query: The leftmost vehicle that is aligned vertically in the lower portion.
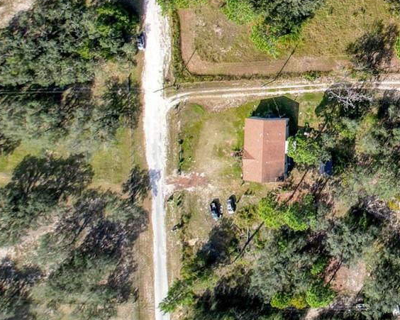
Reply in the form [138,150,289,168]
[209,199,222,221]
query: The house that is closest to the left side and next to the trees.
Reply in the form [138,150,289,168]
[240,116,291,184]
